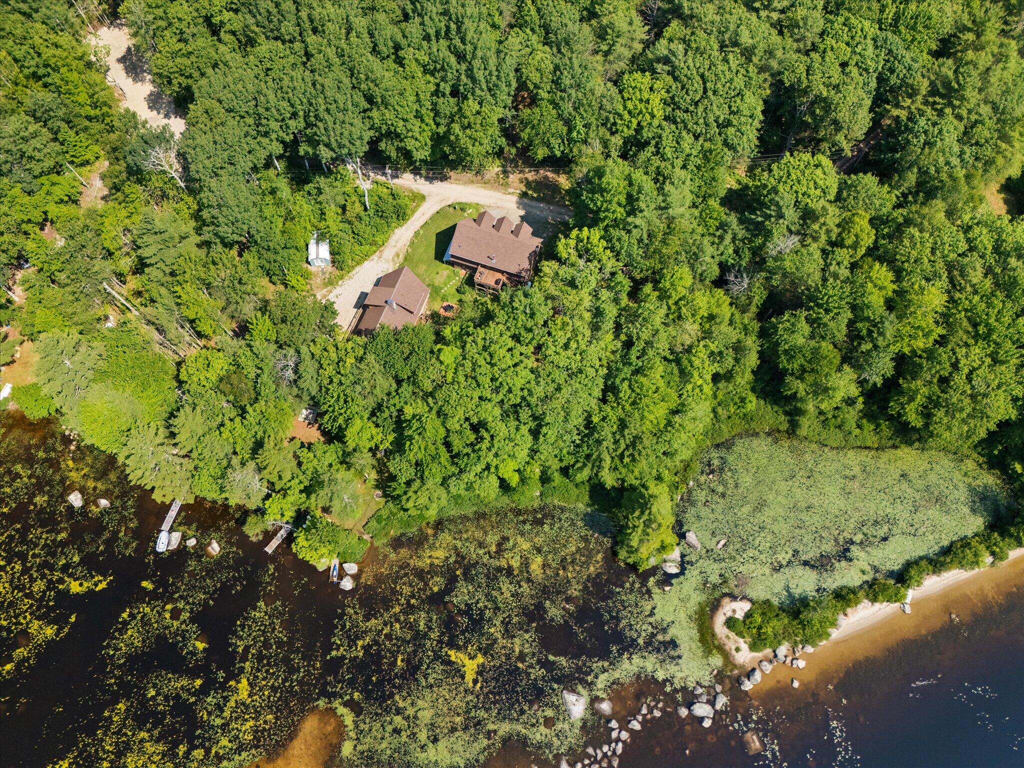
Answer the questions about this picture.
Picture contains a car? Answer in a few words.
No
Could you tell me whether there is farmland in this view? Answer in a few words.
No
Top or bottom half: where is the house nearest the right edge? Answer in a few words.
top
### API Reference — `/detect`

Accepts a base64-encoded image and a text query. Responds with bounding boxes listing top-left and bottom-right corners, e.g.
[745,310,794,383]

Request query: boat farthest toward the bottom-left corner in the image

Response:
[154,529,168,554]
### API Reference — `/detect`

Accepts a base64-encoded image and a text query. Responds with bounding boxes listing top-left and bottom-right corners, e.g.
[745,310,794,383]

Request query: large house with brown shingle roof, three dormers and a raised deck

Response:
[443,211,543,295]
